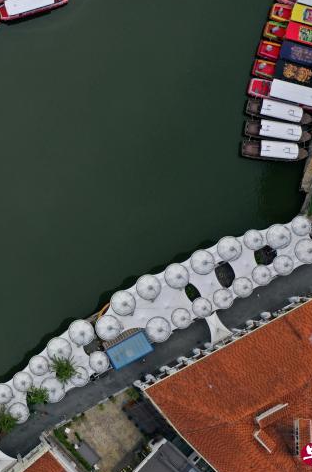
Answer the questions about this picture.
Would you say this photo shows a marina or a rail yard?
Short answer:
marina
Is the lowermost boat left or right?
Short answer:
right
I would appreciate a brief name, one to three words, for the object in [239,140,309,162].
boat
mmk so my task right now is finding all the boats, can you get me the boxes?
[239,140,309,162]
[248,59,312,90]
[244,77,312,110]
[273,0,312,9]
[242,119,312,144]
[260,20,312,48]
[0,0,70,22]
[254,38,312,69]
[267,2,312,29]
[242,98,312,126]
